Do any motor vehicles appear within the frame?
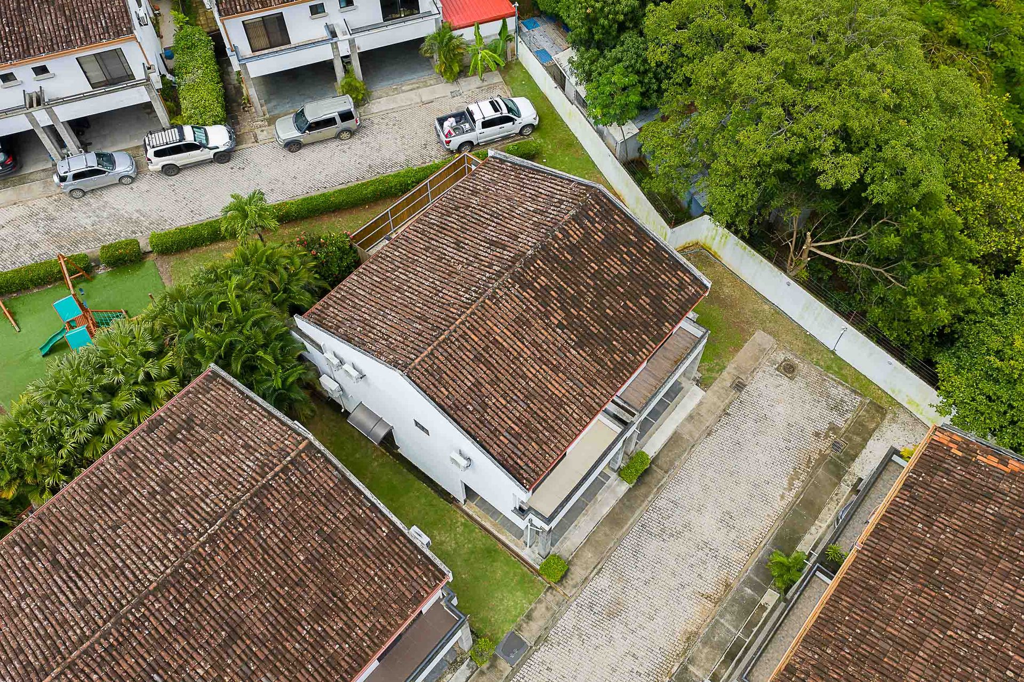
Yes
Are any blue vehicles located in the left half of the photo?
No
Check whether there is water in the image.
No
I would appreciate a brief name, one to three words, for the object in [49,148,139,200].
car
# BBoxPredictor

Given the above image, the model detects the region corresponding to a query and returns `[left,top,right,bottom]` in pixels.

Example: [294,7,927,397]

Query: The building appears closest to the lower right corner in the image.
[730,424,1024,682]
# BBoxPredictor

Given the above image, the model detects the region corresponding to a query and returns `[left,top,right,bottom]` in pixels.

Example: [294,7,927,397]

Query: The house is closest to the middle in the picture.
[297,156,714,561]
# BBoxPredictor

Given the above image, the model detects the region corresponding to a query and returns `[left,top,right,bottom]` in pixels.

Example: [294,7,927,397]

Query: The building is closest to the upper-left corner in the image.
[0,0,171,175]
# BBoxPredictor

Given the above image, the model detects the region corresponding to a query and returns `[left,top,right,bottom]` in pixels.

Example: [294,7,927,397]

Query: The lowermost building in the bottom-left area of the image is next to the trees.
[0,366,473,682]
